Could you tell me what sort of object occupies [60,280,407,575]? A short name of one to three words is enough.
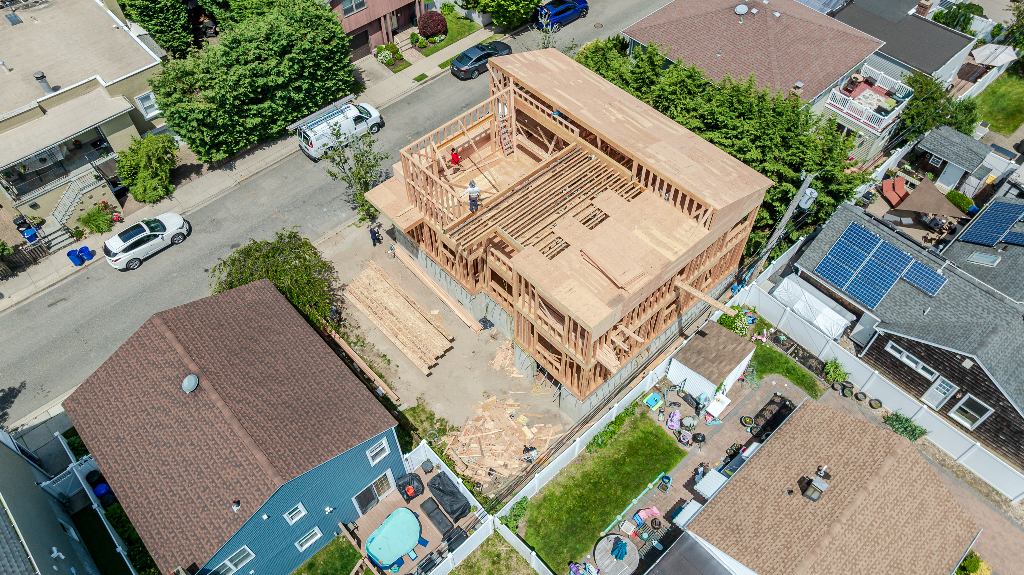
house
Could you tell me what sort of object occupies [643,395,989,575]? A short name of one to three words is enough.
house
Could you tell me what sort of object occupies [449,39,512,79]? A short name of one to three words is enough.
car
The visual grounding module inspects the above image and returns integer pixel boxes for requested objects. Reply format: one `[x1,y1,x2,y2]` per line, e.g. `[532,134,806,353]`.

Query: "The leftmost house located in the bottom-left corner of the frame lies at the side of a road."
[0,446,102,575]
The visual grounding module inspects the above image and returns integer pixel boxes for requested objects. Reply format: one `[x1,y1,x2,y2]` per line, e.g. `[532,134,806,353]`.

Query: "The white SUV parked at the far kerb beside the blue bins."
[97,212,189,272]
